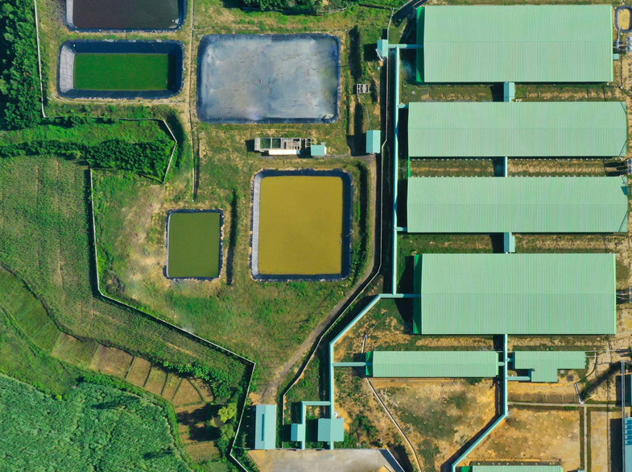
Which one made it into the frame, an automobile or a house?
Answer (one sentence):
There is a house in the scene.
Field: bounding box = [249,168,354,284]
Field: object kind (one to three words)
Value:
pond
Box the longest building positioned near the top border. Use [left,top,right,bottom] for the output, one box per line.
[418,5,616,83]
